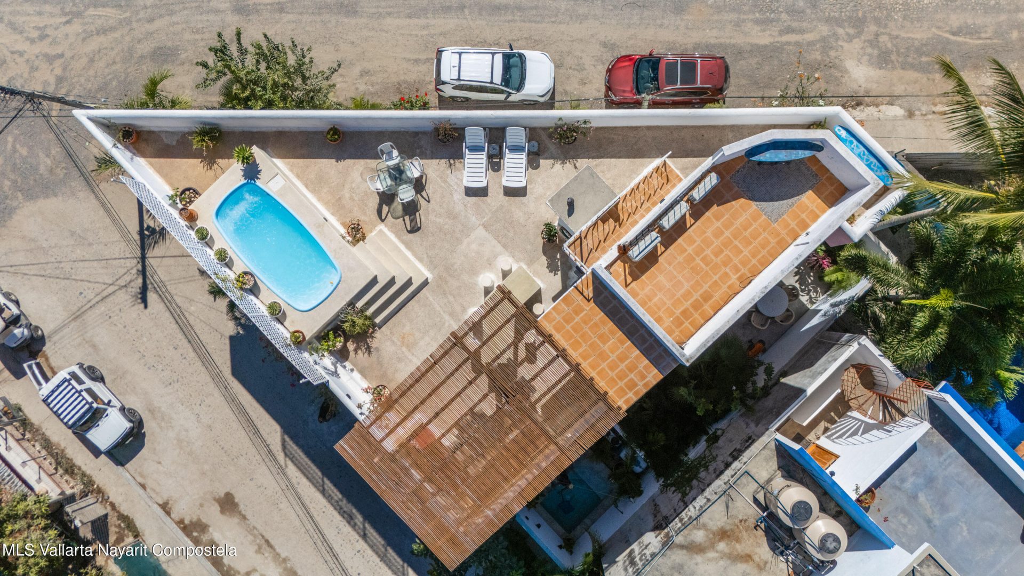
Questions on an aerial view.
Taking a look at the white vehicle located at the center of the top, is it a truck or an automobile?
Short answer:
automobile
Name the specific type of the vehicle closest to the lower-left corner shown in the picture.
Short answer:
automobile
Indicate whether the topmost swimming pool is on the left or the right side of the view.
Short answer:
left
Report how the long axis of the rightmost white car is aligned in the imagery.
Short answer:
horizontally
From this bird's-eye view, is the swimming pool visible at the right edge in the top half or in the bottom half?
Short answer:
bottom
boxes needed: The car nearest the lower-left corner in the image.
[10,365,149,461]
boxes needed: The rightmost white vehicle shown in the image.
[440,43,557,104]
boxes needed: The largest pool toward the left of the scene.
[191,146,429,339]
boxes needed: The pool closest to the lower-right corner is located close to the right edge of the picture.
[936,326,1024,455]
